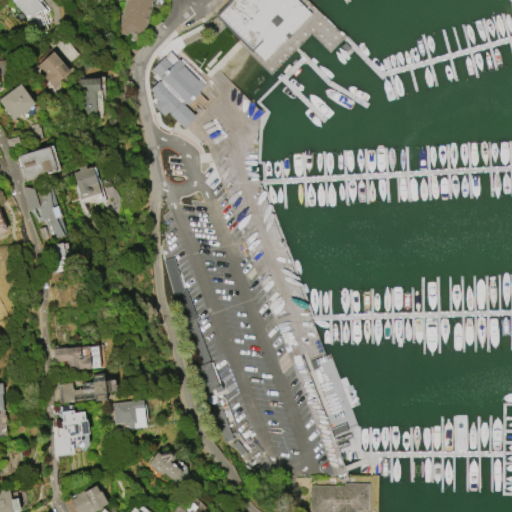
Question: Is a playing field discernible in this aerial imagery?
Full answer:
No, the scene contains no playing field.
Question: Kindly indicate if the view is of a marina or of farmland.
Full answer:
It's a marina.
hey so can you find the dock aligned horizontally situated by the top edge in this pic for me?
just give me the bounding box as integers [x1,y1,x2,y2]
[344,12,512,97]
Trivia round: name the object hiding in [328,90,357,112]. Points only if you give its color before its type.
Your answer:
white boat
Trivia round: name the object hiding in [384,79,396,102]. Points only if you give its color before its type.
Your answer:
white boat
